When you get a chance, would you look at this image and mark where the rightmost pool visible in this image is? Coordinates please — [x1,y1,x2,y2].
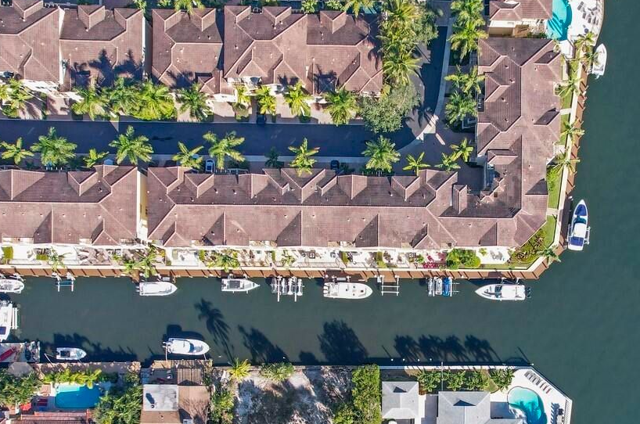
[546,0,574,41]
